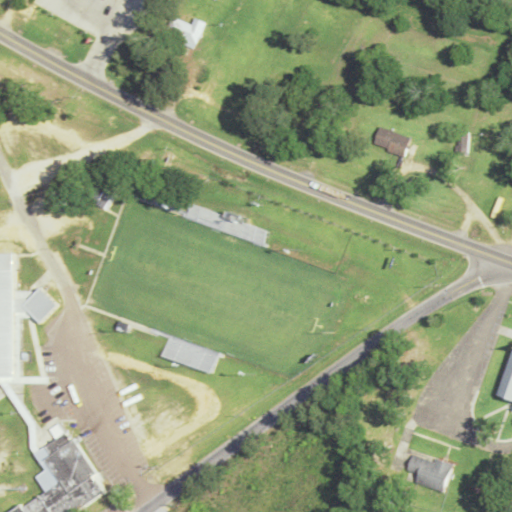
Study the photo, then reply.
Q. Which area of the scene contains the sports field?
center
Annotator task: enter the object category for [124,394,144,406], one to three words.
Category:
vehicle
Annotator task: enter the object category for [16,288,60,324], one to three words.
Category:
building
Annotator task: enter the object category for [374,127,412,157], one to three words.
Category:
house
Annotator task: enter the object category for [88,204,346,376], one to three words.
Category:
sports field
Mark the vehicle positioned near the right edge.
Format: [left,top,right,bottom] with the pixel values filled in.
[492,196,505,220]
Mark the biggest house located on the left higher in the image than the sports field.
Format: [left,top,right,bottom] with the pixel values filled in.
[169,17,209,51]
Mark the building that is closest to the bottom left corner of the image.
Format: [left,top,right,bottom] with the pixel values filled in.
[12,436,106,512]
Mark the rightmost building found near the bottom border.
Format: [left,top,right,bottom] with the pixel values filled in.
[405,455,456,492]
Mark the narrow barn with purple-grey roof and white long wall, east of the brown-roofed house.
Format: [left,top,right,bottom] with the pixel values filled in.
[452,132,471,156]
